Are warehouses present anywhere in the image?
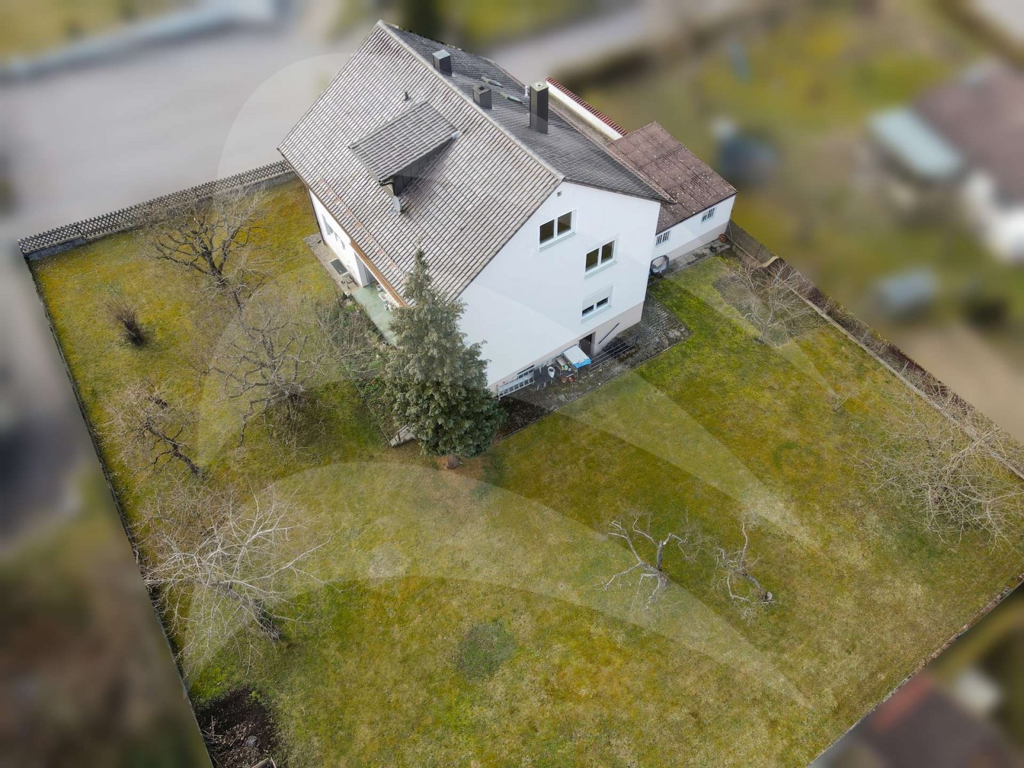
No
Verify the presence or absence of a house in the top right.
Yes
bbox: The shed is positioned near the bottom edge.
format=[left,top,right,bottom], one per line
[861,661,1024,768]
